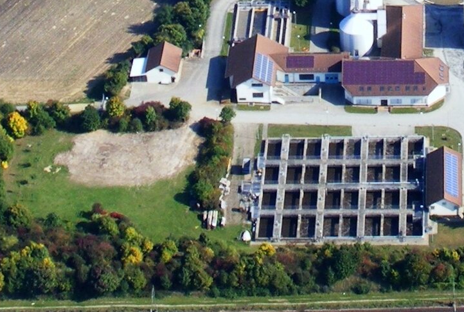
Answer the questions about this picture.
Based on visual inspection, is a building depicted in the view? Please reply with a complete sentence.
Yes, looking at the shot, I can spot a building.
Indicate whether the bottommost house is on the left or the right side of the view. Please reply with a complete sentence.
You can find the bottommost house on the right side of the picture.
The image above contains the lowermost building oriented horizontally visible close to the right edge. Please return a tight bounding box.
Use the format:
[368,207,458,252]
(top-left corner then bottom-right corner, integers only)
[342,58,452,110]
